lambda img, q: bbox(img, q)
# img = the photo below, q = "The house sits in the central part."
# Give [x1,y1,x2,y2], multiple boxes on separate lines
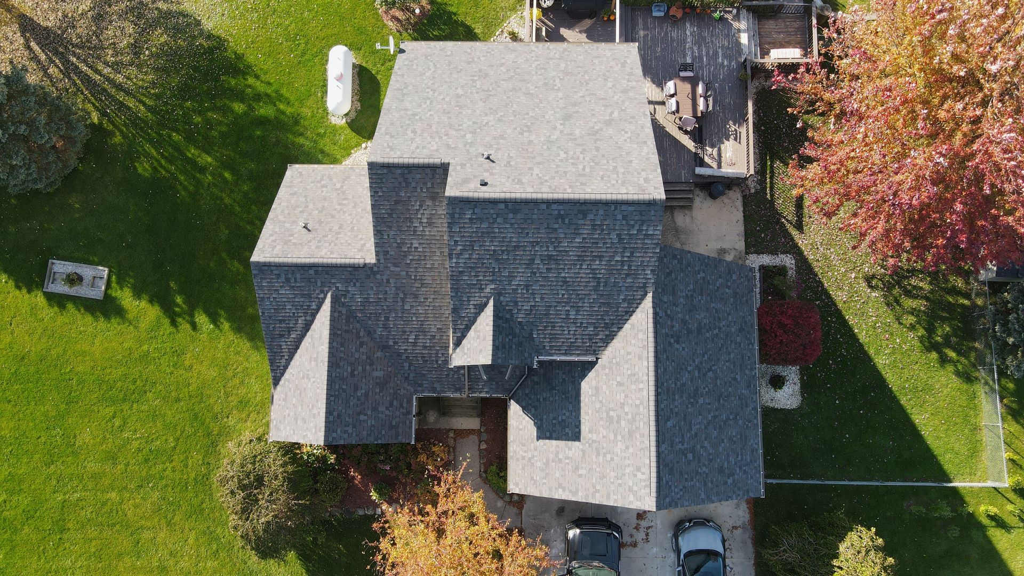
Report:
[251,38,768,511]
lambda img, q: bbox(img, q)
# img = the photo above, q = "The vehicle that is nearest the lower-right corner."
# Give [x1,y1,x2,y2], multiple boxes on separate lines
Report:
[671,516,740,576]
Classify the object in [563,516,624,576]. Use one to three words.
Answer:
car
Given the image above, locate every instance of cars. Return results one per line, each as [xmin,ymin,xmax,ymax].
[671,516,740,576]
[563,516,624,576]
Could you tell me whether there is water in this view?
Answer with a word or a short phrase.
No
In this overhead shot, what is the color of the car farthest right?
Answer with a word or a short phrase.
blue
